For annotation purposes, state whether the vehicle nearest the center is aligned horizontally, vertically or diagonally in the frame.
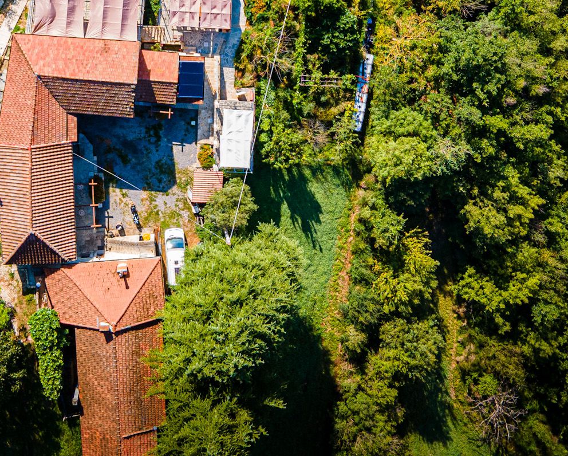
vertically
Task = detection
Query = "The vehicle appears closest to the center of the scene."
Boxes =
[163,226,188,291]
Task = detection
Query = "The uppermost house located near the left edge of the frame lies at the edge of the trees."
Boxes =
[0,32,141,265]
